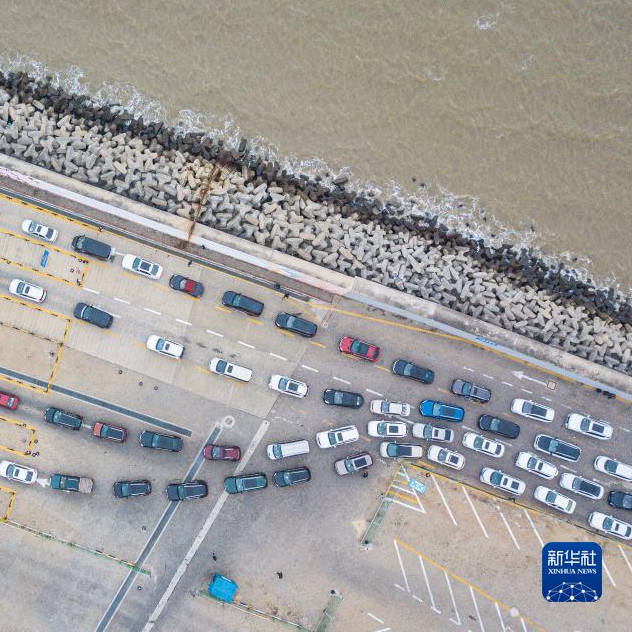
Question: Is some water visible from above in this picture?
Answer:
Yes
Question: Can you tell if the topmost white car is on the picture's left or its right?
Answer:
left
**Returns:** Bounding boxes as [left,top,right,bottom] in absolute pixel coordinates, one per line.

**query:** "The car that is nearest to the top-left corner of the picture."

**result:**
[22,220,59,243]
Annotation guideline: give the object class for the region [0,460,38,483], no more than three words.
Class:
car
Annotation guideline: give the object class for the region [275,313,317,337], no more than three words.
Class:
car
